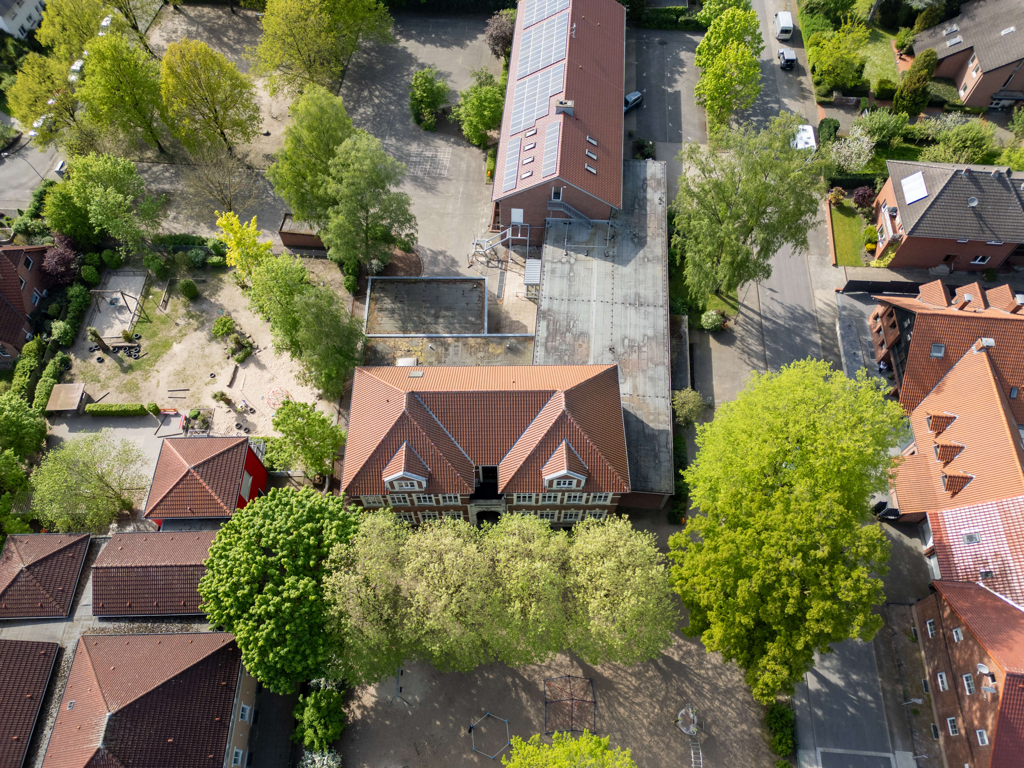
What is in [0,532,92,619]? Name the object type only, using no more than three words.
house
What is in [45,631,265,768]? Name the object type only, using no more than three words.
house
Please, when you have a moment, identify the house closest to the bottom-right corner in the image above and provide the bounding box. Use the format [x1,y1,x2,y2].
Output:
[910,579,1024,768]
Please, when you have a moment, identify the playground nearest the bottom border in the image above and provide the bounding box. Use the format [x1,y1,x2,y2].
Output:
[53,254,352,503]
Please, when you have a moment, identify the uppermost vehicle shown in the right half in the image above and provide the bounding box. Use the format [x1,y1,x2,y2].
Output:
[774,2,799,38]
